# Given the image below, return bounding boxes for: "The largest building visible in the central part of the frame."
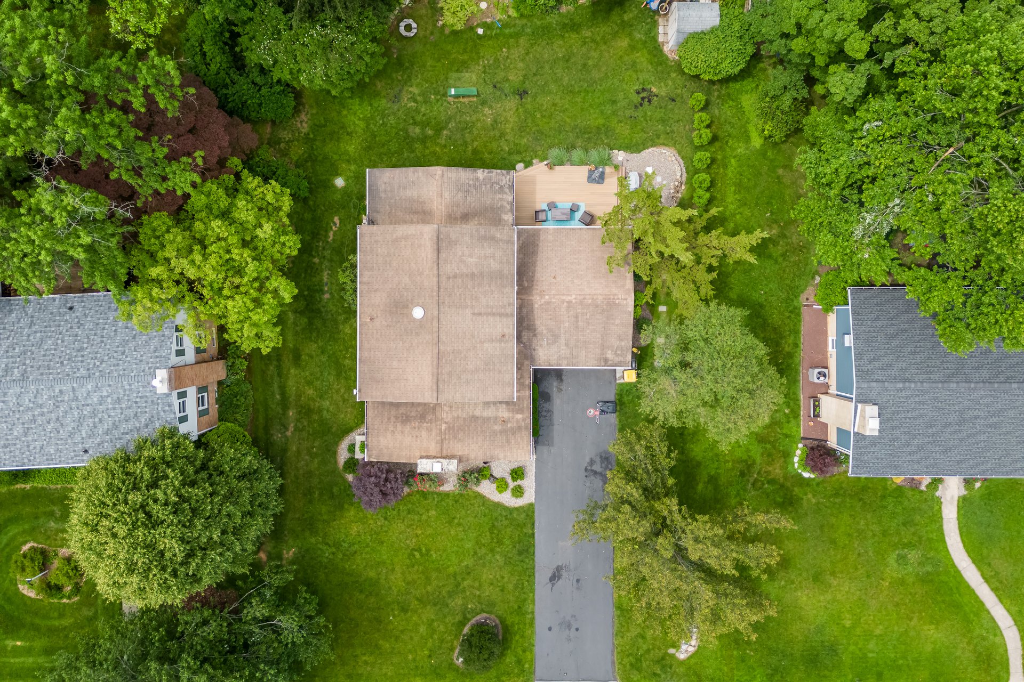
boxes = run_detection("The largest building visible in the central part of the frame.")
[353,164,633,472]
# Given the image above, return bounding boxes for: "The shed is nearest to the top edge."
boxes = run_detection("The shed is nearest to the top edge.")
[668,6,719,52]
